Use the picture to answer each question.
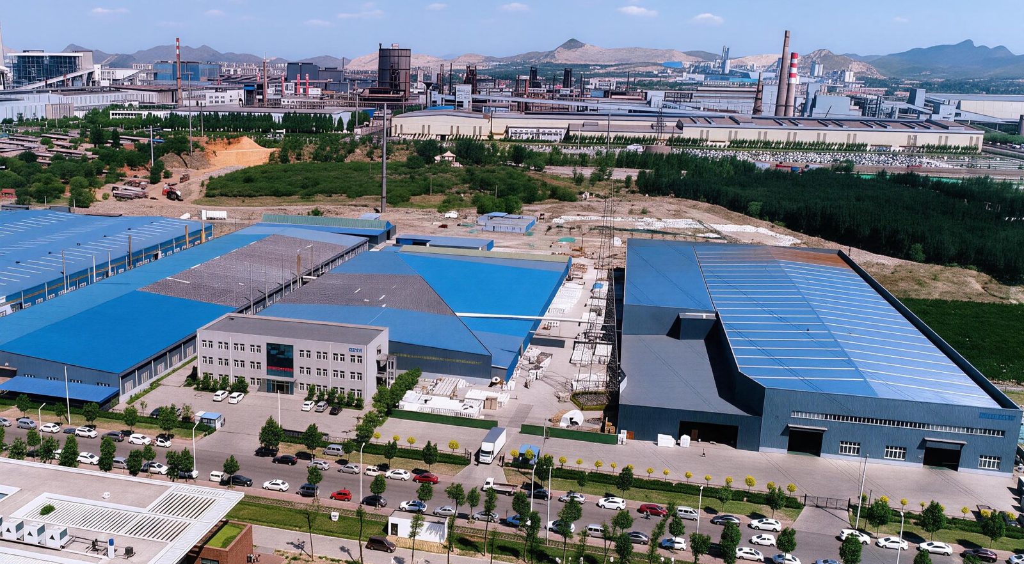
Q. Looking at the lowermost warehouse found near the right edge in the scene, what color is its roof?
blue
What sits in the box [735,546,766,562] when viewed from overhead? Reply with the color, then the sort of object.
white car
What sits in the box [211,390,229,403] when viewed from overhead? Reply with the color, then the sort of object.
white vehicle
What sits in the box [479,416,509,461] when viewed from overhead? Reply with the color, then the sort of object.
white truck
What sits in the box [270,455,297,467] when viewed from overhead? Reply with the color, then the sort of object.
black vehicle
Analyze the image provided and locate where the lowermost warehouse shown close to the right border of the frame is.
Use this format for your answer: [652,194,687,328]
[695,242,1024,481]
